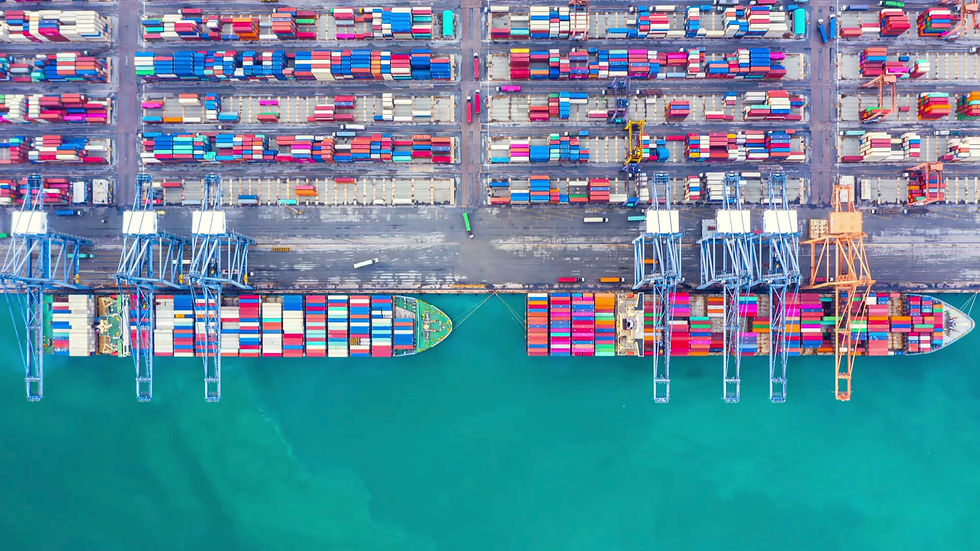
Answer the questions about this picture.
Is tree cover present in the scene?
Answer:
No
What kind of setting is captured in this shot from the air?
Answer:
port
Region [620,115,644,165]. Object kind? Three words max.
container crane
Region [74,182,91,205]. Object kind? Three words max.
shed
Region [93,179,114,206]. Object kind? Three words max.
shed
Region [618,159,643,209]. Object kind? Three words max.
container crane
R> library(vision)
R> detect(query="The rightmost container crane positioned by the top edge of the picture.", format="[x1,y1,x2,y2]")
[941,0,977,43]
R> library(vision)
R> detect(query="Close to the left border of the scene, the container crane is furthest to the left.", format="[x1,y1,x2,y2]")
[0,173,99,401]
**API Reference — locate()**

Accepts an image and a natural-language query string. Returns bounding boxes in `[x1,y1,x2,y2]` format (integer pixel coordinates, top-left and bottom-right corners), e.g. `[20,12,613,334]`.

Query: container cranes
[730,173,805,401]
[0,173,99,401]
[620,115,644,165]
[187,173,259,401]
[626,173,682,401]
[618,159,643,209]
[606,73,630,125]
[861,72,895,125]
[793,184,876,400]
[689,173,756,401]
[568,0,590,43]
[908,158,944,209]
[114,173,197,401]
[941,0,977,43]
